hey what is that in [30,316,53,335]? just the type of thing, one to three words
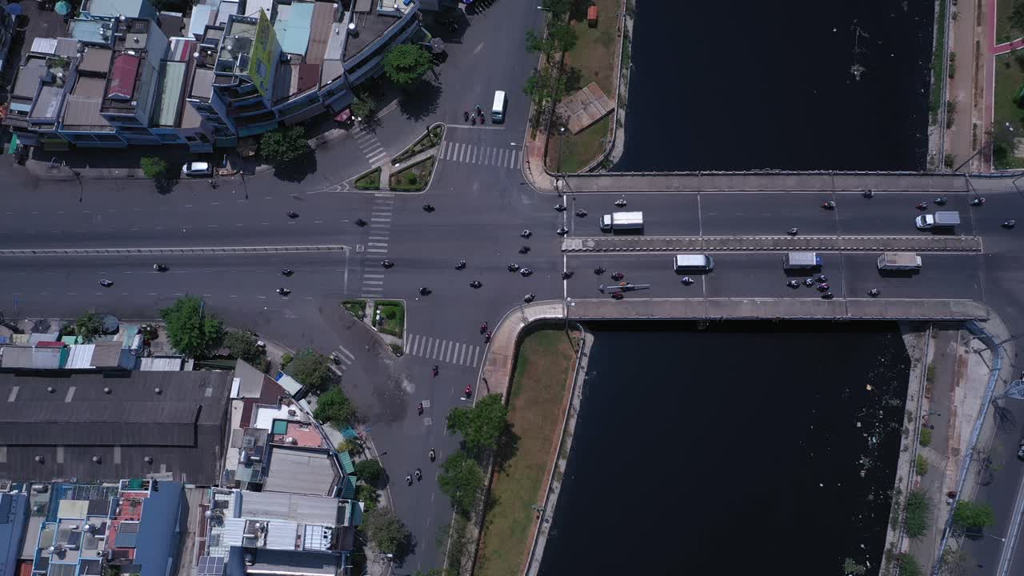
umbrella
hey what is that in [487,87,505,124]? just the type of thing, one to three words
vehicle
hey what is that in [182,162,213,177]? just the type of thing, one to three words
car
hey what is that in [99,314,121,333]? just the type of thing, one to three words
umbrella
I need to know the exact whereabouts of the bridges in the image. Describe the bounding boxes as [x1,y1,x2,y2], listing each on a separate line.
[563,171,993,322]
